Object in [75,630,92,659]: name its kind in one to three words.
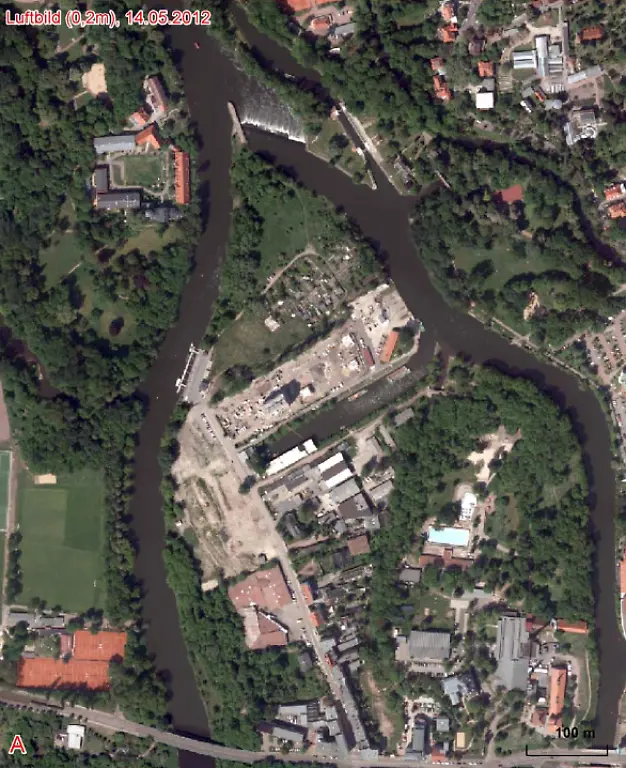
tennis court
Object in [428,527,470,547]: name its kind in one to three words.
swimming pool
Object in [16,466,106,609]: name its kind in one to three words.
sports field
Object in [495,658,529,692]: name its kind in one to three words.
building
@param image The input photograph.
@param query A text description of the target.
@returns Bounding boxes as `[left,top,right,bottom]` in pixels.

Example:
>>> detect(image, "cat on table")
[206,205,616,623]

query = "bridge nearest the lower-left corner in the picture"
[157,729,220,758]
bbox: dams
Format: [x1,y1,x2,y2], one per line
[231,62,305,142]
